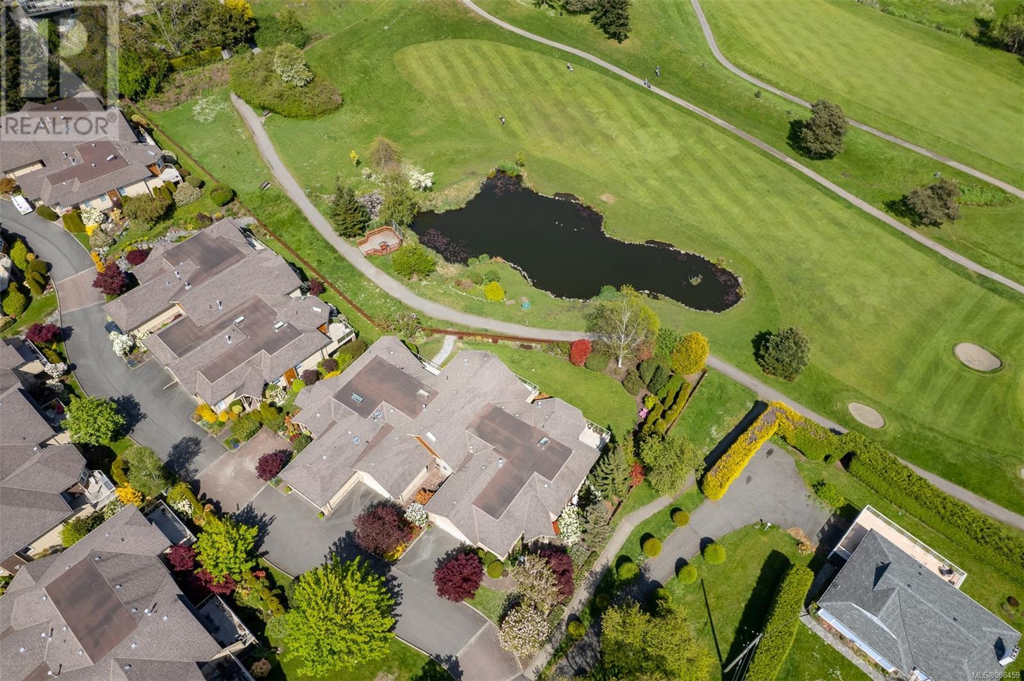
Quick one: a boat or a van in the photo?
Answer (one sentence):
Looking from above, you can make out a van.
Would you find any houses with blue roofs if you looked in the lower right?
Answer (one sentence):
No, no house with a blue roof is visible in the lower right.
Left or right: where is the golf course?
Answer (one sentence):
The golf course is on the right side of the image.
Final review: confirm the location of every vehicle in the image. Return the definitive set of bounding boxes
[9,189,37,222]
[100,319,120,336]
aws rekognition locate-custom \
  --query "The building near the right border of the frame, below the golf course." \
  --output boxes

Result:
[811,505,1024,681]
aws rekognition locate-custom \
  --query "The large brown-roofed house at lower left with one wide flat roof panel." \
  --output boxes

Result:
[0,499,257,681]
